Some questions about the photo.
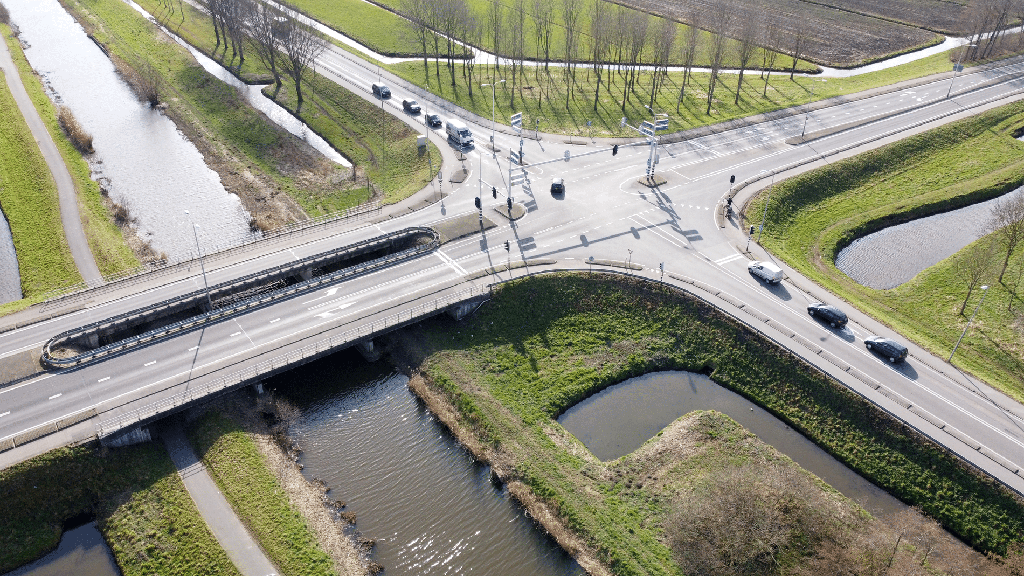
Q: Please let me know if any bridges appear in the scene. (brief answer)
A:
Yes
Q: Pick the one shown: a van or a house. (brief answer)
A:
van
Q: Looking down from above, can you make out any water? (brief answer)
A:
Yes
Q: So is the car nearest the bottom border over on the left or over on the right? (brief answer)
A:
right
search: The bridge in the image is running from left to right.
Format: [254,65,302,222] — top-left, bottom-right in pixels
[59,206,490,442]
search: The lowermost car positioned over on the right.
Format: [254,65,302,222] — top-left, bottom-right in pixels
[863,334,912,364]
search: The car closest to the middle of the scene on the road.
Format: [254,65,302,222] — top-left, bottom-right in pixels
[550,174,565,190]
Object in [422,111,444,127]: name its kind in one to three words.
car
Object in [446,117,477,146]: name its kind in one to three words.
van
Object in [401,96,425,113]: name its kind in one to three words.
car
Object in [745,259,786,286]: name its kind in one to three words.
vehicle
